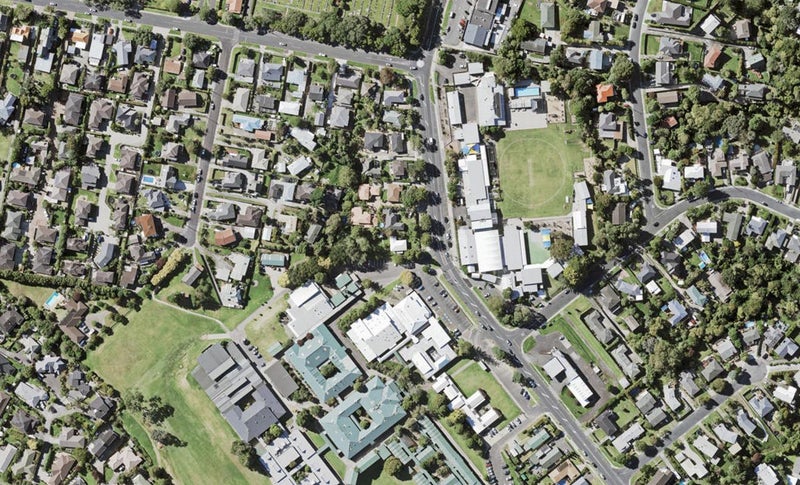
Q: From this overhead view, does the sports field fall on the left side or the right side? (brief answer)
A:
right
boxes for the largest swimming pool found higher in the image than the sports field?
[512,84,542,99]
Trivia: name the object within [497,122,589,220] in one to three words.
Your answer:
sports field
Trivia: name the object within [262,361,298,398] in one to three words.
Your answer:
building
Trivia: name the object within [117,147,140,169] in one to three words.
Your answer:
house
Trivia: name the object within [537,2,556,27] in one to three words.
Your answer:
house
